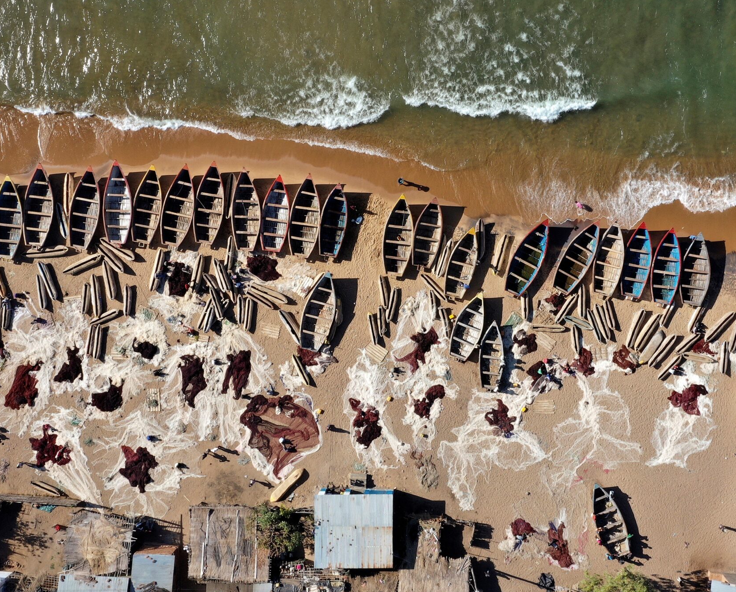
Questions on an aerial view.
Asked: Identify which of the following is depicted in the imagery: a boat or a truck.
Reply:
boat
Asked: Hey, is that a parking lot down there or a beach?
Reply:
beach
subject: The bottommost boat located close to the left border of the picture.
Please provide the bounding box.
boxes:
[30,479,61,497]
